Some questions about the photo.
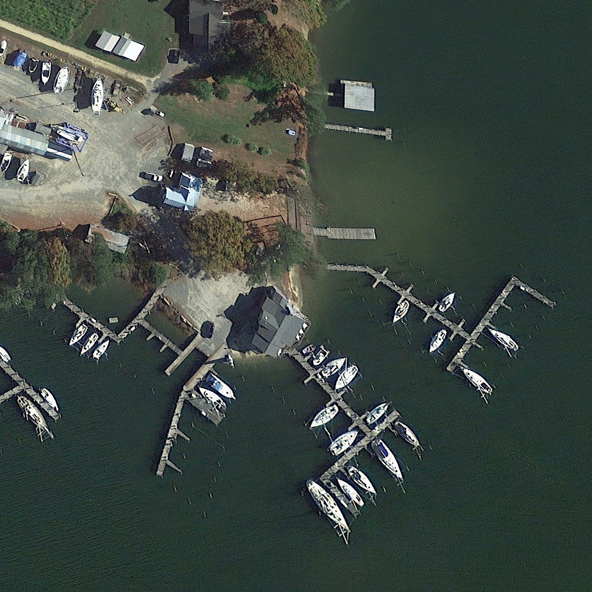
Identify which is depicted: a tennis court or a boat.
boat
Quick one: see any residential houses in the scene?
Yes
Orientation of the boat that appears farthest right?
at an angle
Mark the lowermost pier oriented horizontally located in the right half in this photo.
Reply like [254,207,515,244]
[325,261,556,371]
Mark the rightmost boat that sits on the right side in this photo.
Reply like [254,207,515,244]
[489,329,520,360]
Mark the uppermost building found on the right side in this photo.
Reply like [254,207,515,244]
[339,77,375,111]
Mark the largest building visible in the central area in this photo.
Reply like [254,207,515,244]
[250,286,310,358]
